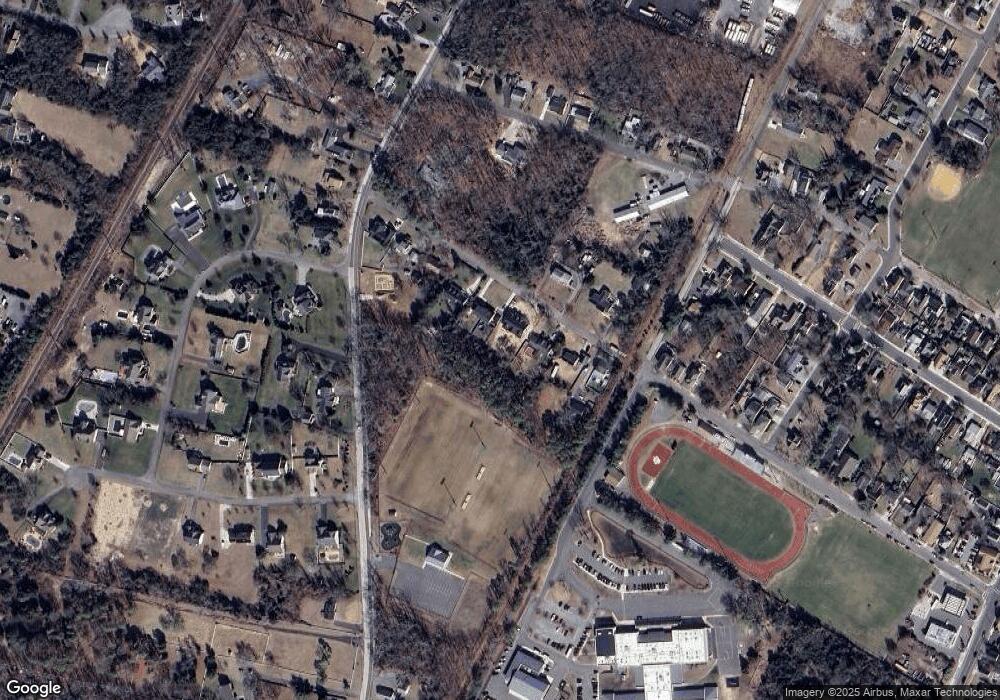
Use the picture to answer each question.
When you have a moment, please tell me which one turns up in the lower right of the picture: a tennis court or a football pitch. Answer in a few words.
football pitch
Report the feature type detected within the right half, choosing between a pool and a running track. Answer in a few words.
running track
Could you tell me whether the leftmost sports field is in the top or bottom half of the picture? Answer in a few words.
bottom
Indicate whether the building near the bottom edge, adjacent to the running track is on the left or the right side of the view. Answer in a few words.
right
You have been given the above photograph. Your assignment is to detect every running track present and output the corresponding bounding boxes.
[622,424,809,583]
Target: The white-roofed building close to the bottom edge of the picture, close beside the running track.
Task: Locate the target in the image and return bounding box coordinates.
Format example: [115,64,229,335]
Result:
[596,622,719,700]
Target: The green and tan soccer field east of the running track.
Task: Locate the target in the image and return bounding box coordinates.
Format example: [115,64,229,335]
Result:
[769,512,937,656]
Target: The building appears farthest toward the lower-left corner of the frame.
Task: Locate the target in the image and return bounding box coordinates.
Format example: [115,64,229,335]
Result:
[31,511,57,538]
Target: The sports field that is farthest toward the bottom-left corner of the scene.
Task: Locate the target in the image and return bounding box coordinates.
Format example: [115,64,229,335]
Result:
[379,379,559,571]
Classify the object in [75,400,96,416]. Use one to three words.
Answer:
swimming pool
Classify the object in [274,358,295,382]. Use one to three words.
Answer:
house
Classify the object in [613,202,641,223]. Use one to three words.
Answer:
barn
